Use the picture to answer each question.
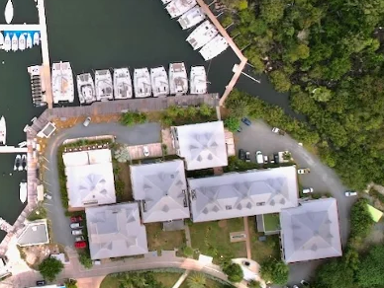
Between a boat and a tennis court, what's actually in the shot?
boat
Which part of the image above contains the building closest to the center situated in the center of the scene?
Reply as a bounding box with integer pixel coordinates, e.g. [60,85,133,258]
[169,120,235,171]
